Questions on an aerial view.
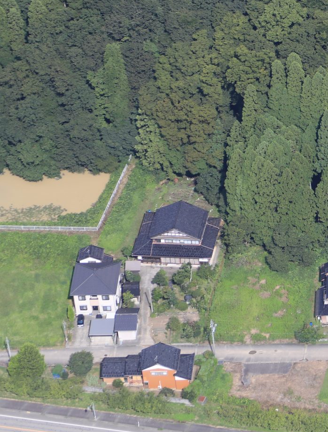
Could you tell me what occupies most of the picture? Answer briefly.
trees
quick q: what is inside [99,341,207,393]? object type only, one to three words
house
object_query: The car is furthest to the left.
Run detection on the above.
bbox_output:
[74,312,87,327]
